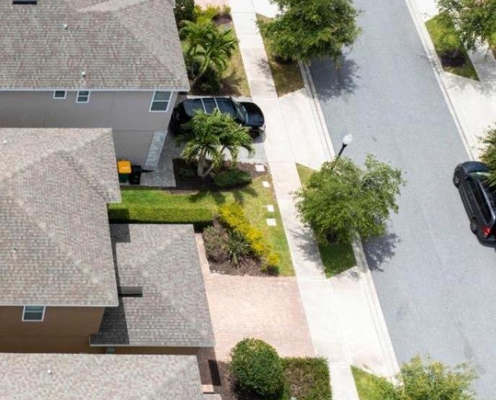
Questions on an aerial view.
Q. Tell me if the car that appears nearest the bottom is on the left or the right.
right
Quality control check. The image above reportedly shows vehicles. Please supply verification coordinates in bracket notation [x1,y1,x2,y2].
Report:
[451,162,496,240]
[168,103,258,146]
